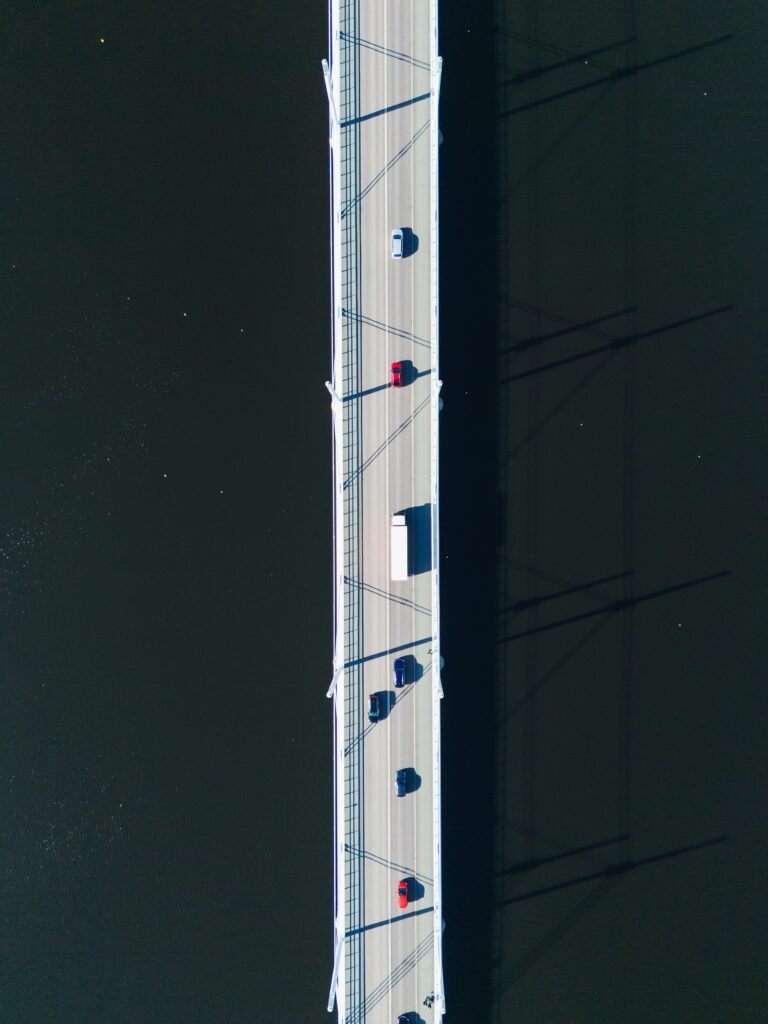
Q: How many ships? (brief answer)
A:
none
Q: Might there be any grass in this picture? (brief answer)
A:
No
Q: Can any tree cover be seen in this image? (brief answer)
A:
No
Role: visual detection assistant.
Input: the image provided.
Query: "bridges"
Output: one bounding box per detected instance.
[323,0,445,1024]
